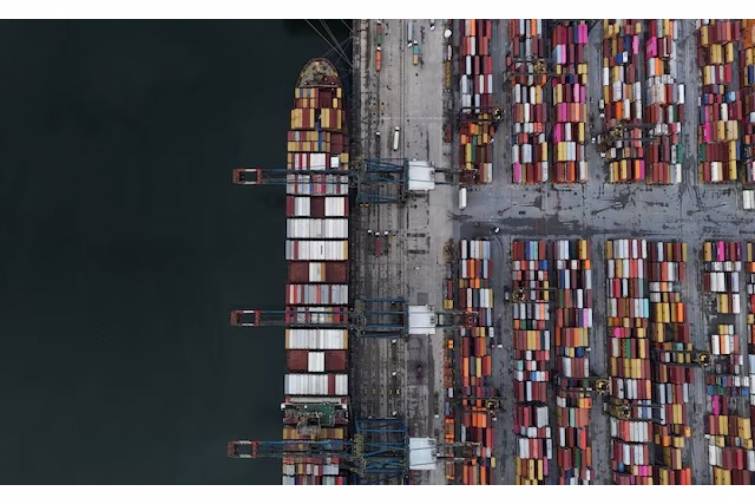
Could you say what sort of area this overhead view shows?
port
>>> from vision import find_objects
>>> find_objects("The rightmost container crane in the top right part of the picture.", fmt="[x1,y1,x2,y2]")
[591,123,658,150]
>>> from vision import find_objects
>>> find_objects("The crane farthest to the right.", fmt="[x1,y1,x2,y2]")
[645,341,712,365]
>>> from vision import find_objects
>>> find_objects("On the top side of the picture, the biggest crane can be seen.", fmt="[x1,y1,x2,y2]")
[231,158,480,211]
